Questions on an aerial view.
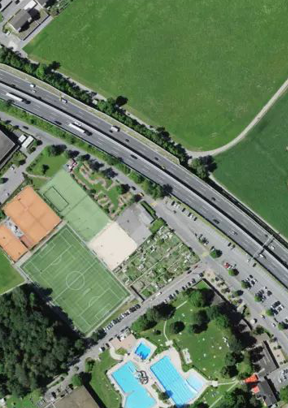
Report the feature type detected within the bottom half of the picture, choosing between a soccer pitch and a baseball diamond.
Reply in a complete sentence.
The one visible within the bottom half of the picture is a soccer pitch.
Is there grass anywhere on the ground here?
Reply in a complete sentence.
Yes, the picture does contain grass.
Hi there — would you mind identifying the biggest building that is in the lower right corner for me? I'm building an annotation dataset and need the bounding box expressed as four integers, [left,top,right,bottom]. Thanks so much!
[253,343,277,375]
